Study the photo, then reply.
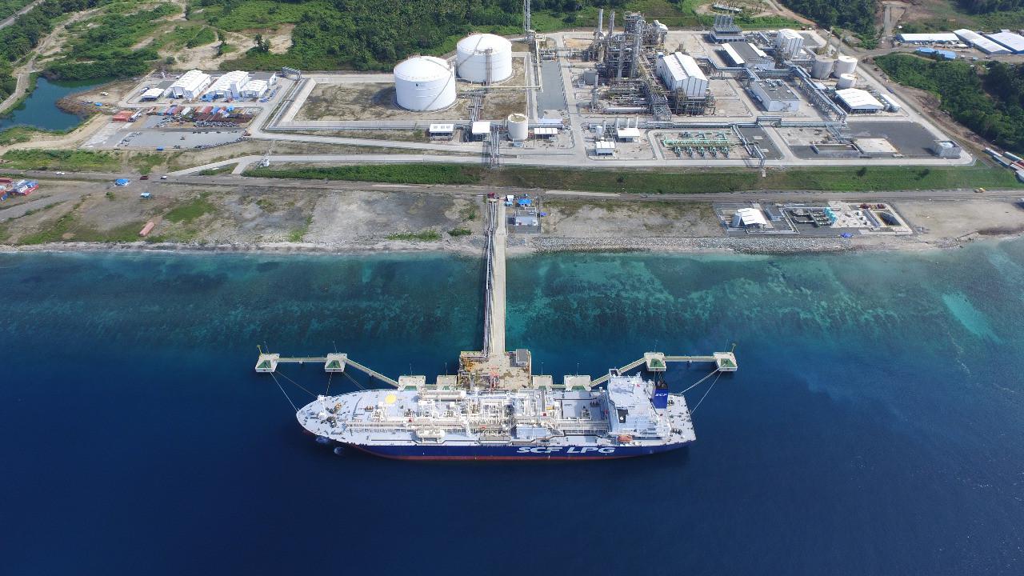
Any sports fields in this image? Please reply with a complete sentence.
No, there is no sports field in the image.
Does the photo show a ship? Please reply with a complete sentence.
Yes, the photo shows a ship.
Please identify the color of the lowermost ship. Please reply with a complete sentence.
The lowermost ship is white.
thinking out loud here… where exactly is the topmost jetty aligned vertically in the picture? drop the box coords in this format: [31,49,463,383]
[492,207,506,353]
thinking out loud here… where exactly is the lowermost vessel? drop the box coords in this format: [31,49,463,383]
[294,367,695,460]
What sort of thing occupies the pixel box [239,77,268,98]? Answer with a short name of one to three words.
building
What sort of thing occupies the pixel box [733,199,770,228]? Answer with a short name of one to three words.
shed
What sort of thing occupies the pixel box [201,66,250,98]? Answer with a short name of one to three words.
building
